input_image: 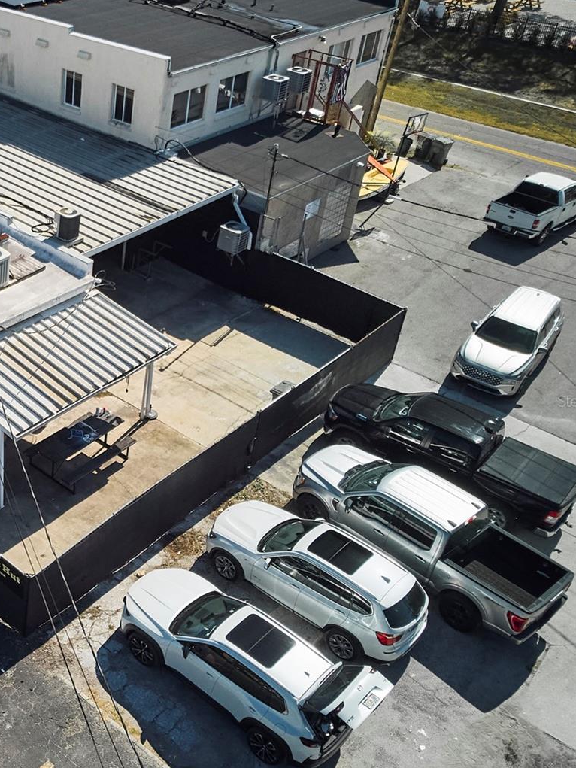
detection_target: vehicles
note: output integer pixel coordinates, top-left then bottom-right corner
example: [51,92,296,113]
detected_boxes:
[320,376,576,537]
[127,570,403,768]
[480,167,576,240]
[276,446,576,649]
[454,289,576,398]
[209,497,444,667]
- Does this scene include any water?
No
